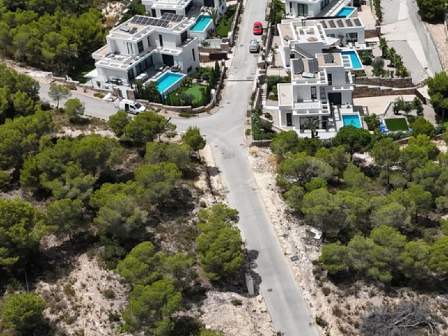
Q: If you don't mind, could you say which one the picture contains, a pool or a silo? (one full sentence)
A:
This aerial view contains a pool.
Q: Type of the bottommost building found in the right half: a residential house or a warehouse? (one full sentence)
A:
What you see as the bottommost building found in the right half is a residential house.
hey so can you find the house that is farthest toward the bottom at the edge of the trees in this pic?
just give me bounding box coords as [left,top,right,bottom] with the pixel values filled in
[278,53,354,134]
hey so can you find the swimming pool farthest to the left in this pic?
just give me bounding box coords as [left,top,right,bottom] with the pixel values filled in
[152,71,187,92]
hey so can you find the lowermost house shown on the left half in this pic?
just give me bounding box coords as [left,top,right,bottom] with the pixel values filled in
[84,12,205,92]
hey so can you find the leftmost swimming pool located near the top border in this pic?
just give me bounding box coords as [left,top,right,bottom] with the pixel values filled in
[192,14,214,34]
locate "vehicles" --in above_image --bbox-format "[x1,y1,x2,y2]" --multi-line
[252,24,263,34]
[110,95,144,115]
[248,41,259,52]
